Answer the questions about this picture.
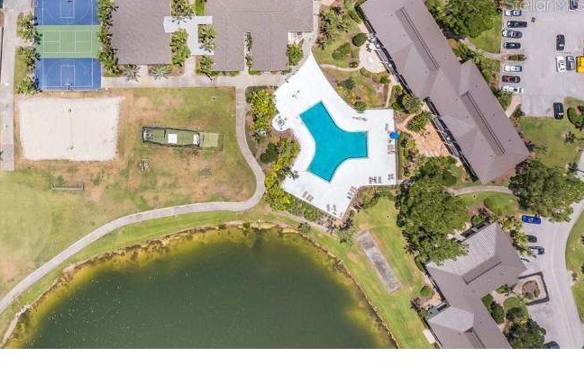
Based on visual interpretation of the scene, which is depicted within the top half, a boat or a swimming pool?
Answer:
swimming pool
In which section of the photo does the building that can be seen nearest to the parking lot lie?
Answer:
top right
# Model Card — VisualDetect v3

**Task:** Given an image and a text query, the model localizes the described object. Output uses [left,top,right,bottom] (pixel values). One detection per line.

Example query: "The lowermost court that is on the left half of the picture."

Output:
[17,96,122,160]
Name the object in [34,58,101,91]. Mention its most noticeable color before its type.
blue basketball court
